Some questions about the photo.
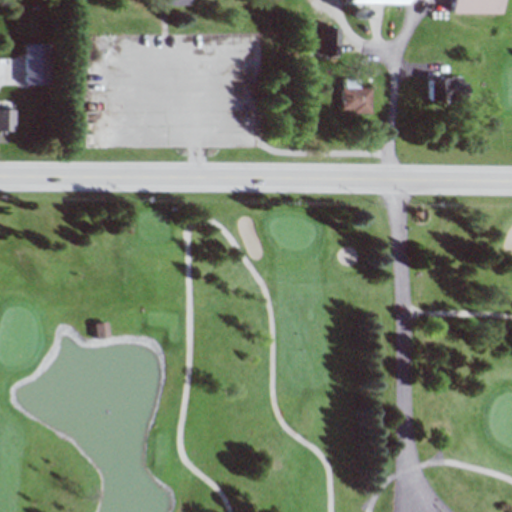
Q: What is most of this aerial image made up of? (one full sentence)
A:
For the most part, this view shows grass.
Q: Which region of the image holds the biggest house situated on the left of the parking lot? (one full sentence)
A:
Look in the top left portion of the view to spot the biggest house situated on the left of the parking lot.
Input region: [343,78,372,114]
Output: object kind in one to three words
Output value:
house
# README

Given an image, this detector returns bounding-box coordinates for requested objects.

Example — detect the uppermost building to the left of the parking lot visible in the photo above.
[24,45,48,88]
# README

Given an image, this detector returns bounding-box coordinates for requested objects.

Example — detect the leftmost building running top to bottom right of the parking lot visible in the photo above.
[327,27,340,56]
